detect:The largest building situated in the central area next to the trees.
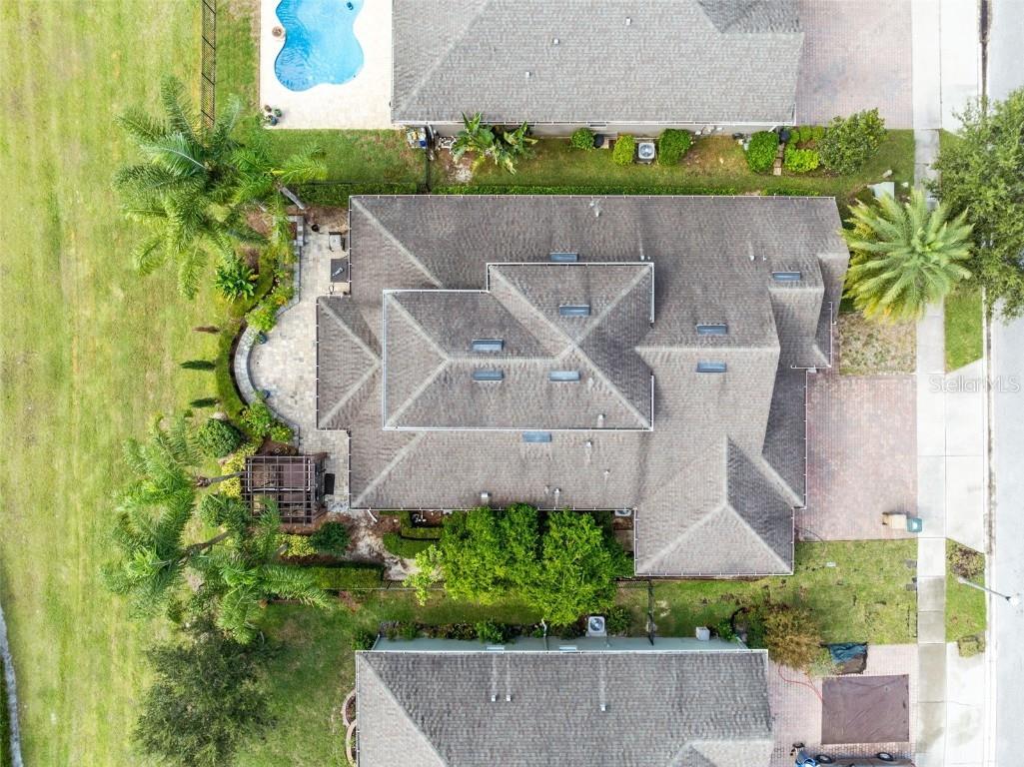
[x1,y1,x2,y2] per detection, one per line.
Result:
[316,195,851,577]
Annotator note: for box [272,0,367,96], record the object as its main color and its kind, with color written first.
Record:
blue swimming pool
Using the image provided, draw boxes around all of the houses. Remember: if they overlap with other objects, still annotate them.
[356,619,775,767]
[391,0,804,143]
[316,195,851,577]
